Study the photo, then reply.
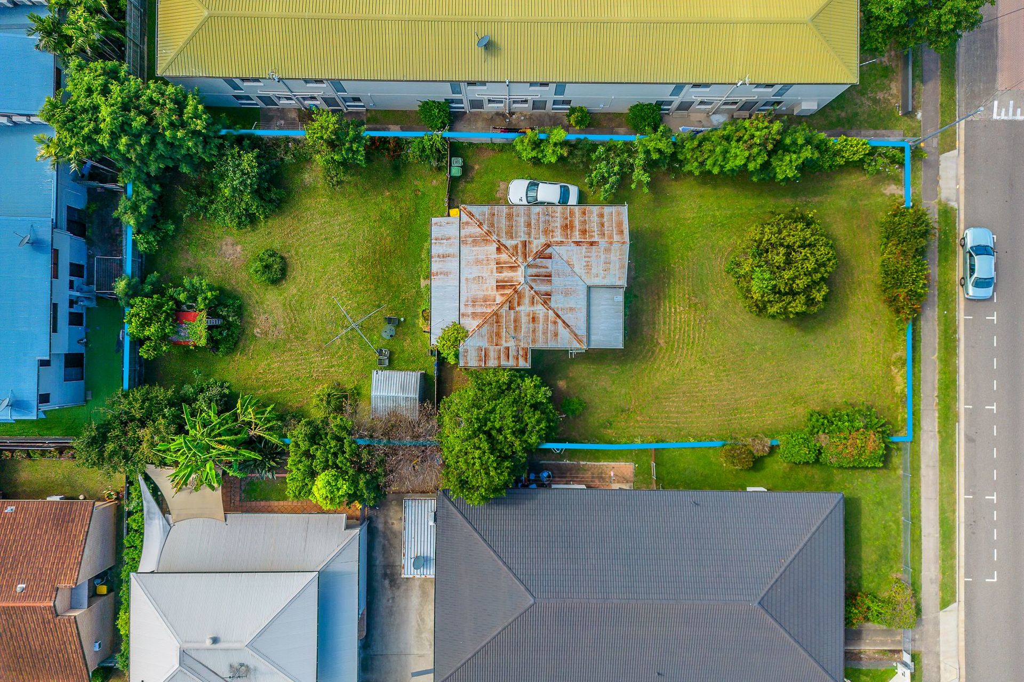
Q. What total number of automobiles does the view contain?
2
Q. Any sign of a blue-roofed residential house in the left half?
Yes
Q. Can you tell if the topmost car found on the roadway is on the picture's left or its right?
right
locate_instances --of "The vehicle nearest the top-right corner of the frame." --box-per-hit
[962,228,1005,301]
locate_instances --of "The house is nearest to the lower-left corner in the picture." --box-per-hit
[0,487,115,682]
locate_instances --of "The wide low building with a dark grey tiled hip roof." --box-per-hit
[438,483,847,682]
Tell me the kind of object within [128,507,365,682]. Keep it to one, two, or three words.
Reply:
house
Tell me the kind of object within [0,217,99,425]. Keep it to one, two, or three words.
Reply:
house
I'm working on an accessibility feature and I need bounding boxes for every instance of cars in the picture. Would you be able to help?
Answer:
[962,228,1005,301]
[507,175,581,202]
